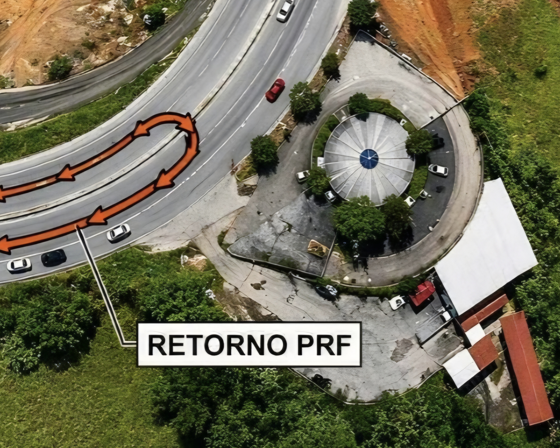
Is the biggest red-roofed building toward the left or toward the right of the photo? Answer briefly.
right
